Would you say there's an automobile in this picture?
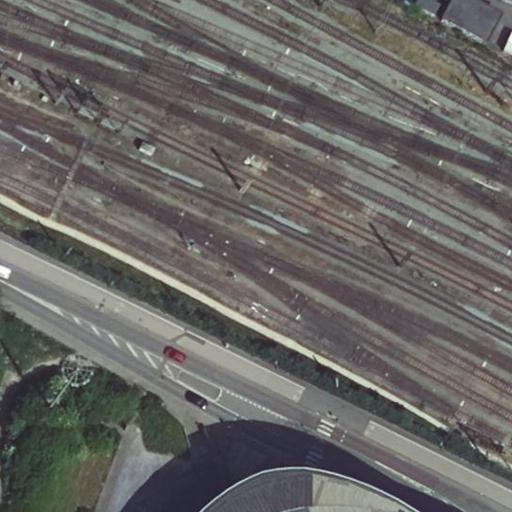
Yes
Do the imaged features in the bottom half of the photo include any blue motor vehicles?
No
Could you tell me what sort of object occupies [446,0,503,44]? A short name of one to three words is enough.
shed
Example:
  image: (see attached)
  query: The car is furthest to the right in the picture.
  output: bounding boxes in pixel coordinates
[185,390,208,408]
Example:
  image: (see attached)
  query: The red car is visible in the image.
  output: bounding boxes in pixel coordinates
[162,346,186,363]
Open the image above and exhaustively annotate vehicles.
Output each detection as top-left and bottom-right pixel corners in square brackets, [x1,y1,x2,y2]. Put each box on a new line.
[162,346,186,363]
[185,390,208,408]
[0,264,12,280]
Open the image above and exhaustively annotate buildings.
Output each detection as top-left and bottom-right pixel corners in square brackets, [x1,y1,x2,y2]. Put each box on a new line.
[500,26,512,66]
[199,467,418,512]
[138,142,156,158]
[410,0,443,16]
[446,0,503,44]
